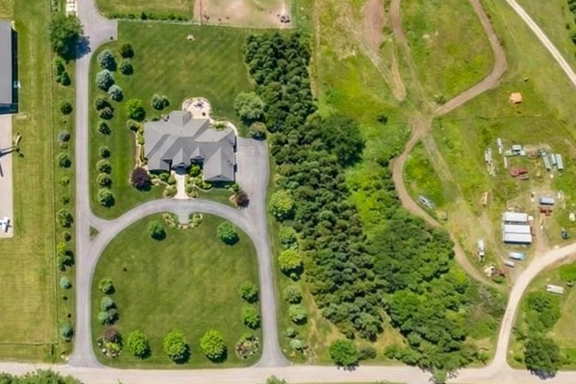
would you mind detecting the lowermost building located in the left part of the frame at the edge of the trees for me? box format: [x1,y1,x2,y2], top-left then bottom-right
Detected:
[144,111,234,181]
